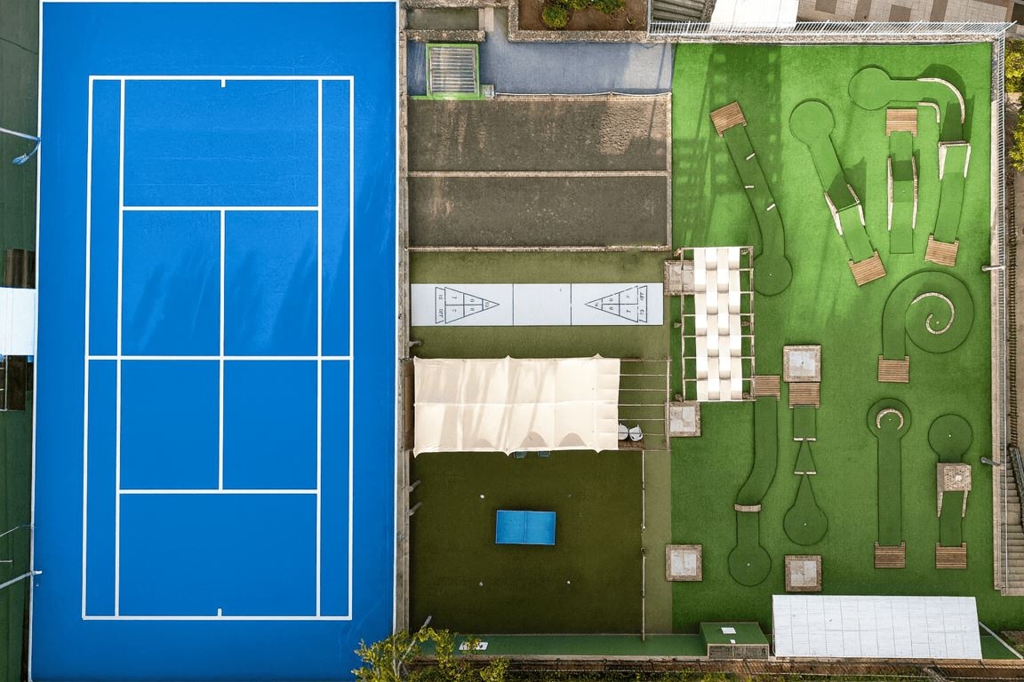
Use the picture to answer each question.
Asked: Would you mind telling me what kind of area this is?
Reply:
sports ground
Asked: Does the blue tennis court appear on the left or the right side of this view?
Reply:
left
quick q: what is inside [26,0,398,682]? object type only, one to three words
tennis court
